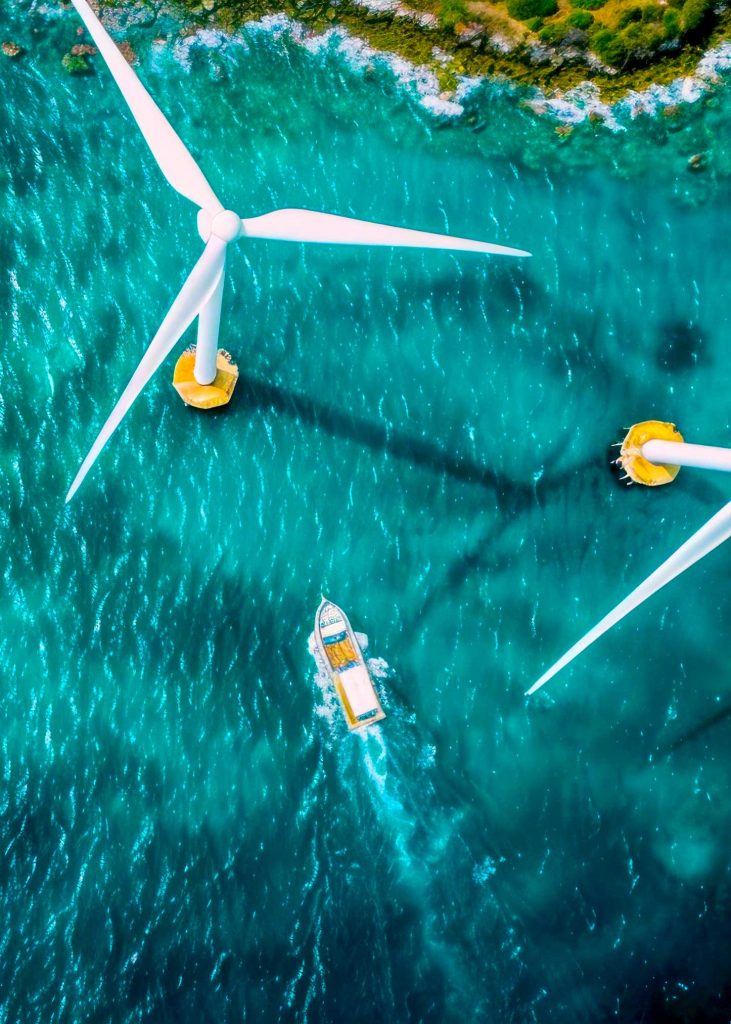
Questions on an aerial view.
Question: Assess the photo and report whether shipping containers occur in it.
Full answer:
No, there appears to be no shipping container in this shot.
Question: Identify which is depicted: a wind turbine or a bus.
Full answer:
There is a wind turbine in the scene.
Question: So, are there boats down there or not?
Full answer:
Yes, a boat can be made out from above.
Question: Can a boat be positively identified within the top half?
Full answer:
No, no boat appears within the top half.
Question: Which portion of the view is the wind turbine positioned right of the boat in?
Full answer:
The wind turbine positioned right of the boat appears toward the right of the photo.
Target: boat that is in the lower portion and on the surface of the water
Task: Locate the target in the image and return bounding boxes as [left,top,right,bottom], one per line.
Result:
[318,595,385,730]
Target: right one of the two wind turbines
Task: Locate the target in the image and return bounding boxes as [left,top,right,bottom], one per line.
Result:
[527,420,731,695]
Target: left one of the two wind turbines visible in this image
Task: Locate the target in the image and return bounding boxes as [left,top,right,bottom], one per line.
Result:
[66,0,533,502]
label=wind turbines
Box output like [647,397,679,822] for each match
[66,0,533,502]
[527,420,731,695]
